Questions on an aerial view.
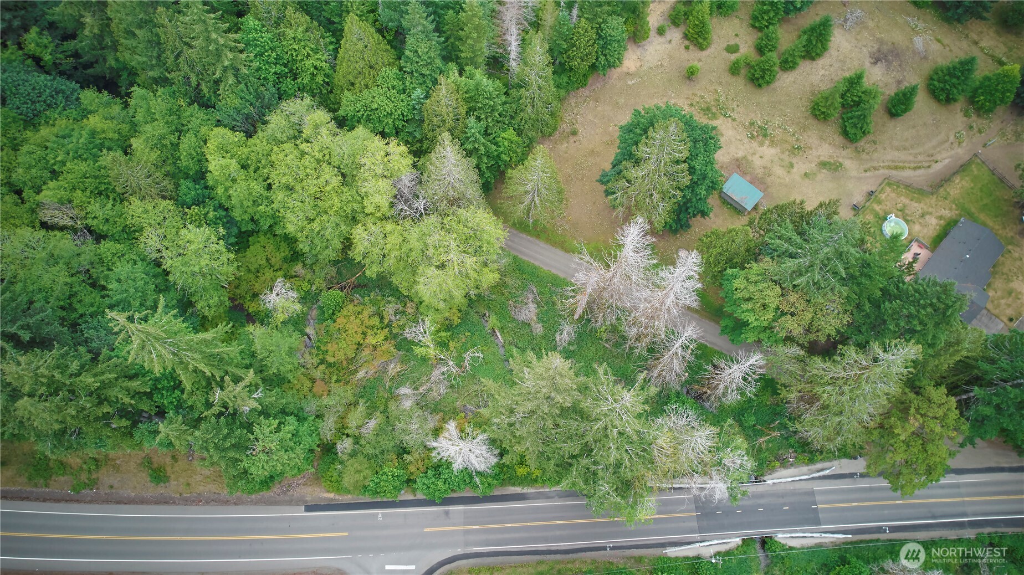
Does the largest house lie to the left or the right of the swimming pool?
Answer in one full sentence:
The swimming pool has the largest house on its right side.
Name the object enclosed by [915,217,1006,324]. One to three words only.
house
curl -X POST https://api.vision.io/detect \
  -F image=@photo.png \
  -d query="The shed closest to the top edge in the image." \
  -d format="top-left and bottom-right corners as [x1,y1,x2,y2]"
[721,173,763,214]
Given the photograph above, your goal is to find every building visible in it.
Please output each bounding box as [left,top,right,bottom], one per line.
[721,173,763,214]
[915,217,1006,324]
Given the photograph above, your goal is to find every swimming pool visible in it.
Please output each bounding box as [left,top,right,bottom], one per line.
[879,215,909,241]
